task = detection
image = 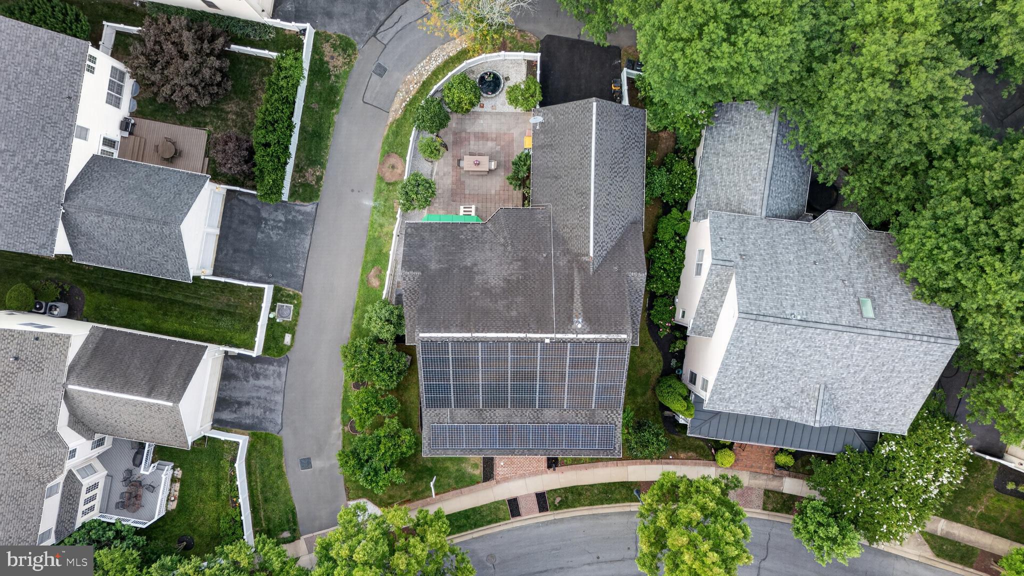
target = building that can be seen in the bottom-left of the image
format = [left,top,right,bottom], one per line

[0,321,223,561]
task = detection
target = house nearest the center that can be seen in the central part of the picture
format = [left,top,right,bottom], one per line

[392,99,648,458]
